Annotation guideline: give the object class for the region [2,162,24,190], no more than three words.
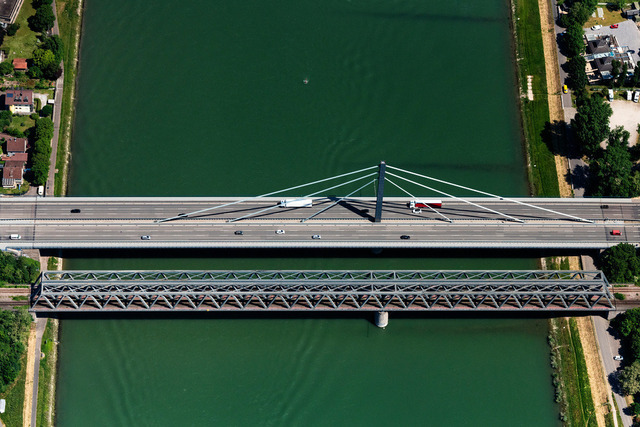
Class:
house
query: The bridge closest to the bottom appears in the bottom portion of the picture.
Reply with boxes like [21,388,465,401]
[31,270,614,326]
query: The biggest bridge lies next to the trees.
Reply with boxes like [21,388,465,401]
[32,159,628,256]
